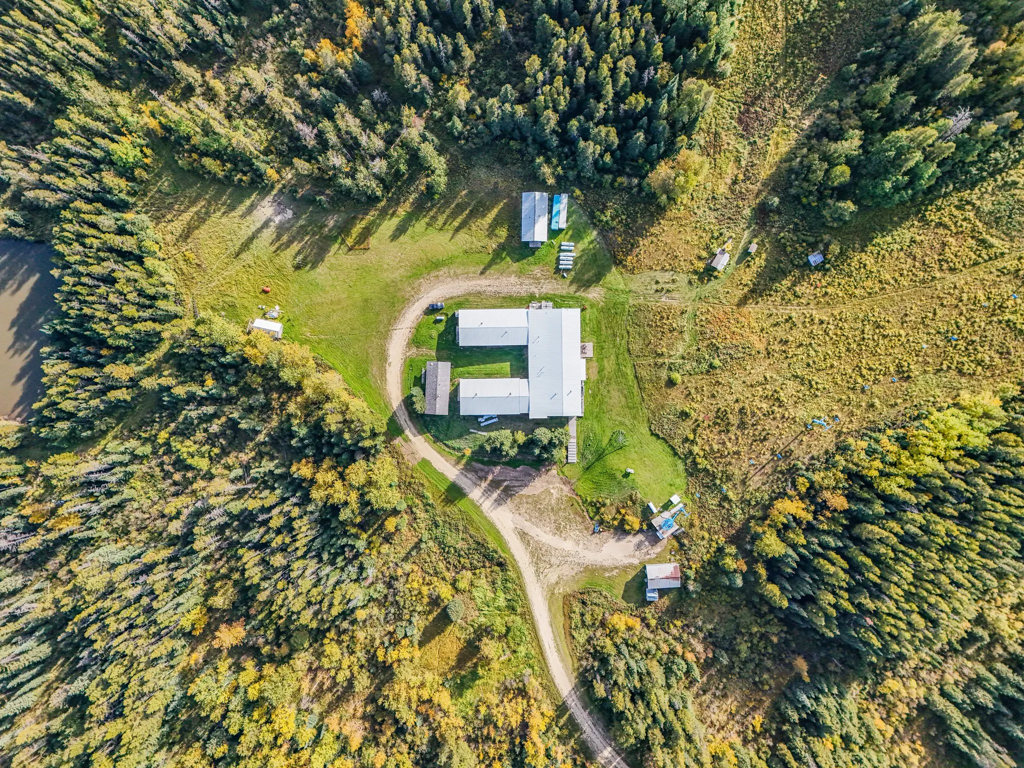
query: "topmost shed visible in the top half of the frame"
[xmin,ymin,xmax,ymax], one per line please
[521,192,548,242]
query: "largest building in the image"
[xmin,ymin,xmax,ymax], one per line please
[459,308,586,419]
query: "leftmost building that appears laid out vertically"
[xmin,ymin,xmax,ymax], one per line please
[424,361,451,415]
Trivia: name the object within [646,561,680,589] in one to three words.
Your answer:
building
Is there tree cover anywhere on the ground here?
Yes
